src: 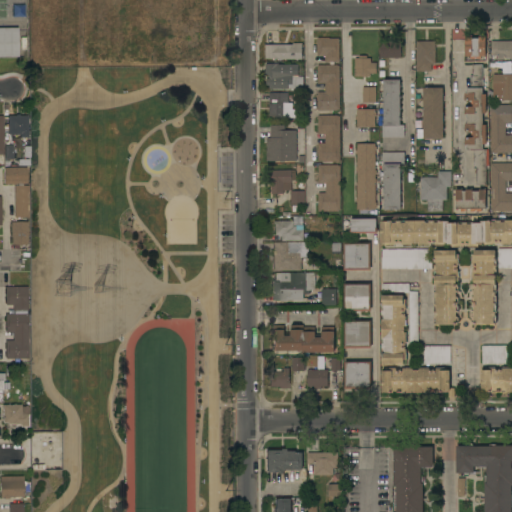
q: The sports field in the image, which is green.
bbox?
[134,328,186,512]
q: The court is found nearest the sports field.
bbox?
[166,196,199,244]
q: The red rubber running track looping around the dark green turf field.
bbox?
[126,318,195,512]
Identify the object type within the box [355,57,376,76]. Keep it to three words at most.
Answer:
house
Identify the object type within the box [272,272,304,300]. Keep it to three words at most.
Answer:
house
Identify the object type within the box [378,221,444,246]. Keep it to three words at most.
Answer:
building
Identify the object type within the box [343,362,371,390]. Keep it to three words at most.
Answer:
building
